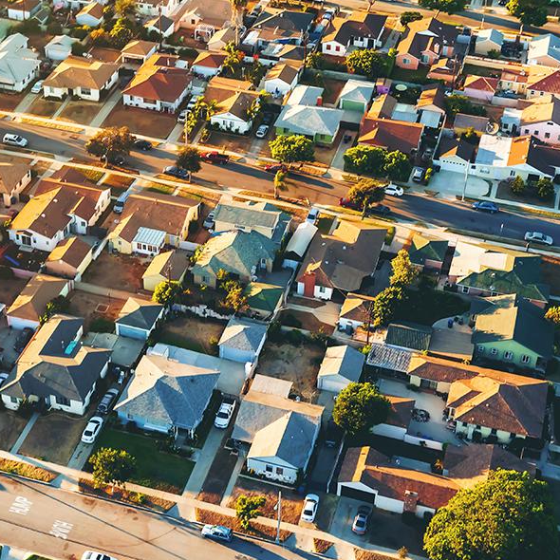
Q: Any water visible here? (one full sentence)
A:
No, no water is visible.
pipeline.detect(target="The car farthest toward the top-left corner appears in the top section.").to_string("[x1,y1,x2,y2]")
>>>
[29,80,46,94]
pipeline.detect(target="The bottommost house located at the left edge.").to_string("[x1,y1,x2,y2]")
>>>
[1,312,113,421]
